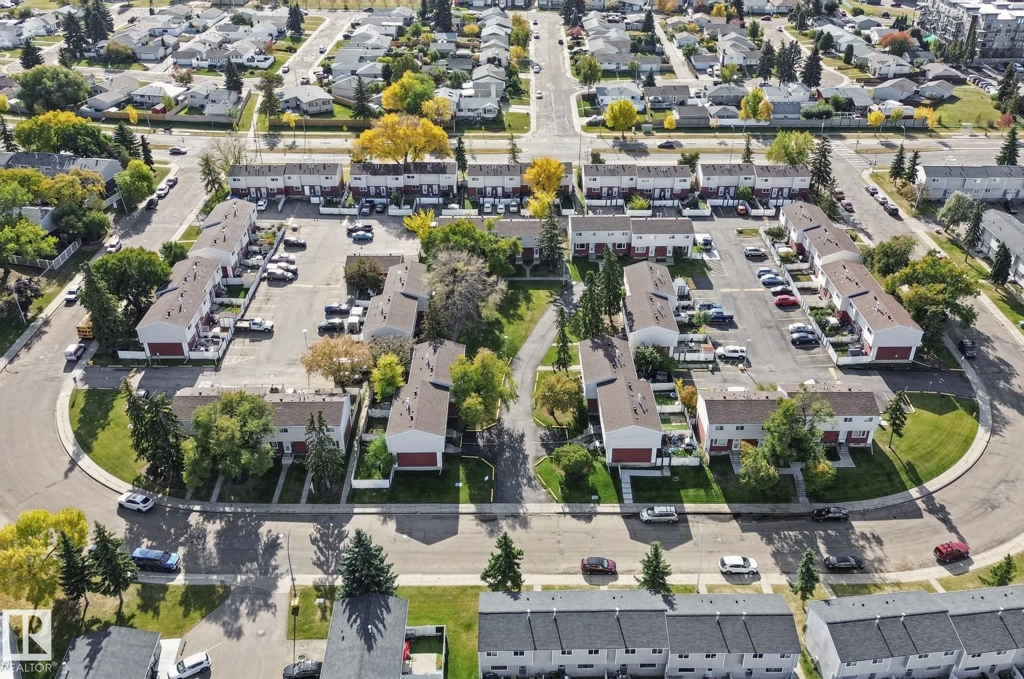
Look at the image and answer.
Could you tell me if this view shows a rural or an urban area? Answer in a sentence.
From above, the setting appears urban.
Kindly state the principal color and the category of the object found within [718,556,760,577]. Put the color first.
white car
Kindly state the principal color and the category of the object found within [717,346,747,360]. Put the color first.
white car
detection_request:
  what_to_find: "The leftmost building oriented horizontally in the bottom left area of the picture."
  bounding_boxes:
[60,633,166,679]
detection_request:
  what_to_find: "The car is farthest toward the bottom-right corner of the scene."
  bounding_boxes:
[932,543,975,565]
